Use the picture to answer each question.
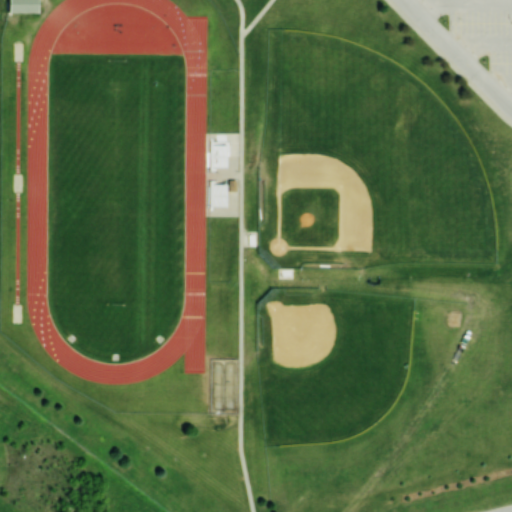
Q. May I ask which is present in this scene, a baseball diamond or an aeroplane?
baseball diamond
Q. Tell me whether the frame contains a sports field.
Yes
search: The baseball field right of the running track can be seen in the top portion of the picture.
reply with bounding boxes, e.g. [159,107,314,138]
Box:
[260,28,498,268]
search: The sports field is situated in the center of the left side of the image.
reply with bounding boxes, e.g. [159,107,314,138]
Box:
[47,54,186,364]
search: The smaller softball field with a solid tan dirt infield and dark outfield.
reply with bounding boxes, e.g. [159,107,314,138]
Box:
[257,288,414,446]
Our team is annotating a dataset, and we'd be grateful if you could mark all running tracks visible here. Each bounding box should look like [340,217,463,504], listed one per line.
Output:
[26,0,207,384]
